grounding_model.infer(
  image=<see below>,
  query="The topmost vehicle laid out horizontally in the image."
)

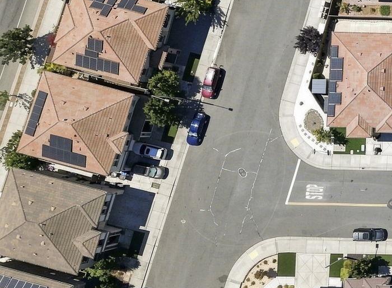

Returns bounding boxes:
[134,141,168,159]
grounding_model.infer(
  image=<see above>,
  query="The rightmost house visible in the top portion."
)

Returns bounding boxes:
[326,31,392,138]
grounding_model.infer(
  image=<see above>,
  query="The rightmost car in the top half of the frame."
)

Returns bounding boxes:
[205,66,225,97]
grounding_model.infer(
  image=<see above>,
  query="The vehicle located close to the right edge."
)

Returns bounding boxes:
[355,226,386,243]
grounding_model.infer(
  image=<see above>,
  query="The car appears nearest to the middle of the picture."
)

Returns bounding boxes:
[189,113,209,145]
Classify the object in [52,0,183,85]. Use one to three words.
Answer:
house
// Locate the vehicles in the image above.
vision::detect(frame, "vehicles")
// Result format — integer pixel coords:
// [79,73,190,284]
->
[132,161,170,180]
[189,113,209,145]
[355,226,386,243]
[134,141,168,159]
[205,66,225,97]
